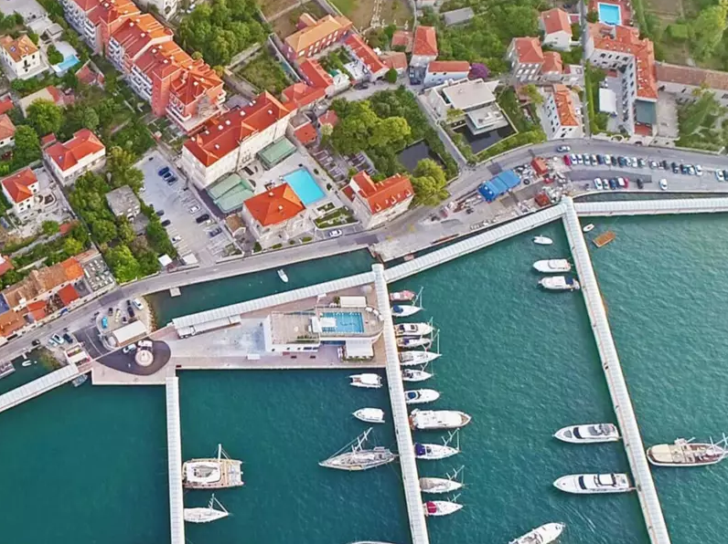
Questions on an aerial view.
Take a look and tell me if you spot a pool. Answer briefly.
Yes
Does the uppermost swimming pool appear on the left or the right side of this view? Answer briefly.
right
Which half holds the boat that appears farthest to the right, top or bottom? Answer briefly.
bottom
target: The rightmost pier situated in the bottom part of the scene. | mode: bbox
[562,198,673,544]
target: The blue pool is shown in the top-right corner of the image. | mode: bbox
[598,2,623,24]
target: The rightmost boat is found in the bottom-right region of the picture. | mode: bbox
[646,438,728,464]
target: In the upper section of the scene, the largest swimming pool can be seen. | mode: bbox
[283,166,327,205]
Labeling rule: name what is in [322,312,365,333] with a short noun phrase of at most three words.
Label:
swimming pool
